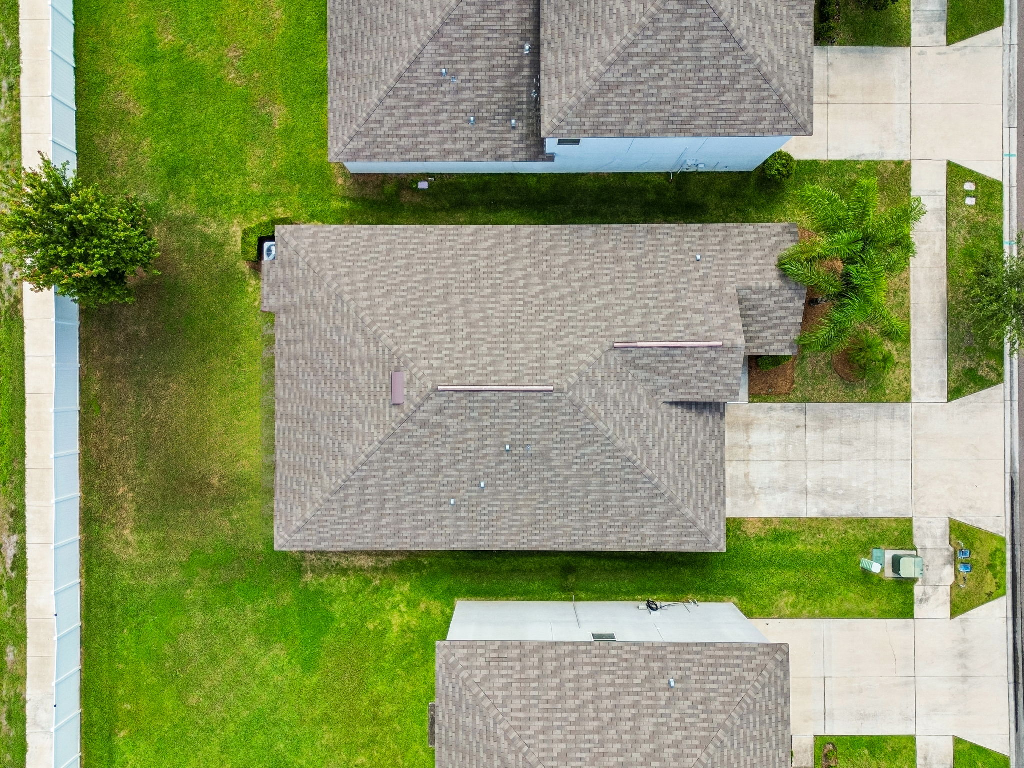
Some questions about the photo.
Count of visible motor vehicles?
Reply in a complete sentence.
The photo contains no motor vehicles.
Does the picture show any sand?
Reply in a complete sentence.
No, no sand is visible.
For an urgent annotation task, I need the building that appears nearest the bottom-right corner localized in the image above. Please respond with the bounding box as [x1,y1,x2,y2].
[435,594,791,768]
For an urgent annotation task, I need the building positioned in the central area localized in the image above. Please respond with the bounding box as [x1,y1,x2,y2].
[261,224,808,552]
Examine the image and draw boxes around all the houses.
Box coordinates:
[435,594,791,768]
[328,0,821,185]
[261,224,808,552]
